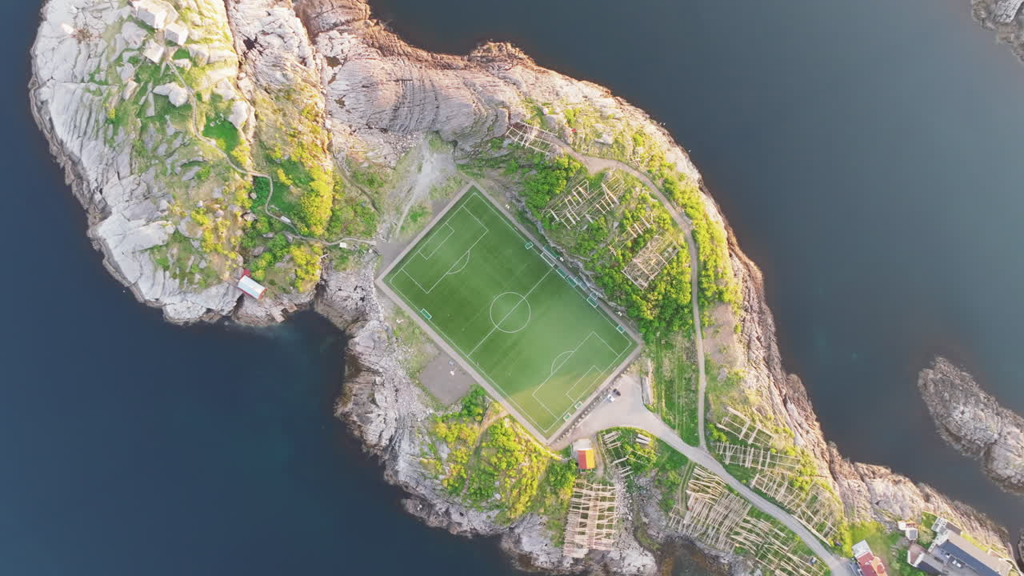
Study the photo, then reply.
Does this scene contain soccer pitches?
Yes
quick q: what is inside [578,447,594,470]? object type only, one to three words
house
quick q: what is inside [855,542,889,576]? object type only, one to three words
house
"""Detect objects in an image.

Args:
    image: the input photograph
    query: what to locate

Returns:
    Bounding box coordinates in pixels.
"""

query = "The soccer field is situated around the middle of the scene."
[383,186,638,438]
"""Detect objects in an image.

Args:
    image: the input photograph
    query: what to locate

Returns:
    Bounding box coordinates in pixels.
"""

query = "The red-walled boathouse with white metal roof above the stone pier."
[239,275,267,299]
